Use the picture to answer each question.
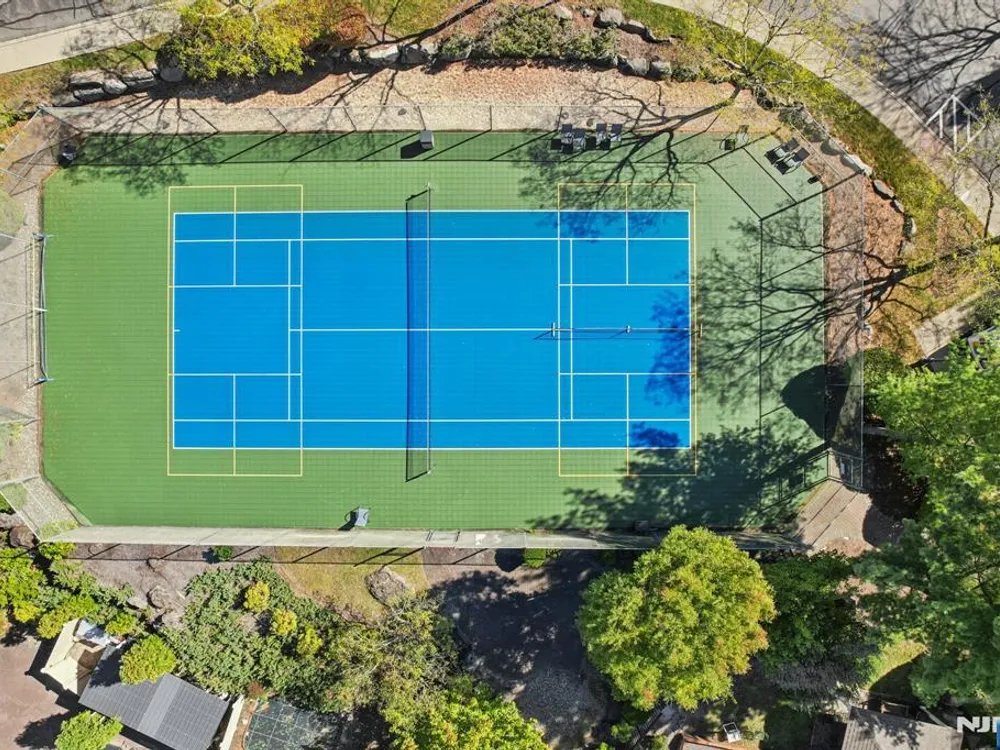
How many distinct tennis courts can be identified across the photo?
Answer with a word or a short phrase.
one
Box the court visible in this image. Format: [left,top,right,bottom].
[38,133,823,527]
